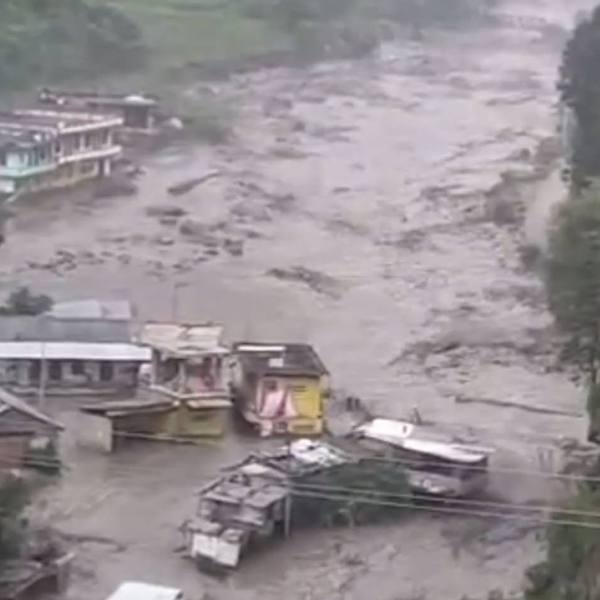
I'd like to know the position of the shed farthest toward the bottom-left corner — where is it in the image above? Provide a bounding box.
[0,543,74,600]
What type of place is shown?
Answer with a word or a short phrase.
residential area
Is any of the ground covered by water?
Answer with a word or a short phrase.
Yes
